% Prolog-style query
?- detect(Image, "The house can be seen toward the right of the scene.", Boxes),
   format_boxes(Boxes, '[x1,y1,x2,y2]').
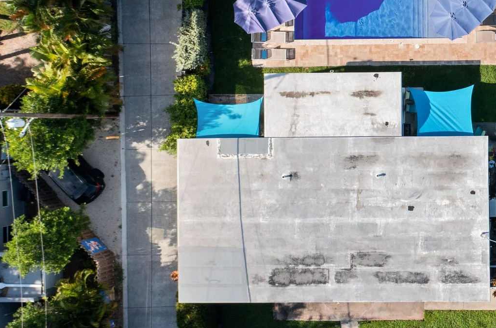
[178,70,490,307]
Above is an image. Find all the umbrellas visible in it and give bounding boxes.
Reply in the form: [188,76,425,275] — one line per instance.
[233,0,308,33]
[431,0,496,40]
